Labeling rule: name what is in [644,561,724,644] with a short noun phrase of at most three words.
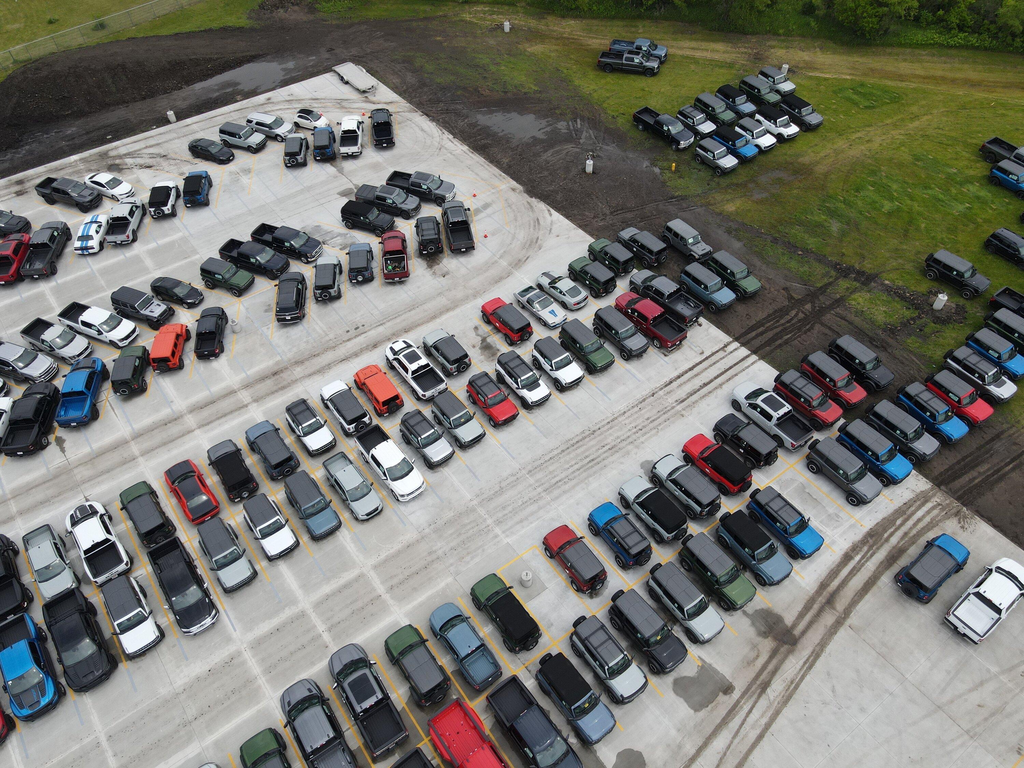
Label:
car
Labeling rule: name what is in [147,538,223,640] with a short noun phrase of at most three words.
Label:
truck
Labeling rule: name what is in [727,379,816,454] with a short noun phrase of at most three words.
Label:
truck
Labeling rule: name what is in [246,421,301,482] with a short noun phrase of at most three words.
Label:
car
